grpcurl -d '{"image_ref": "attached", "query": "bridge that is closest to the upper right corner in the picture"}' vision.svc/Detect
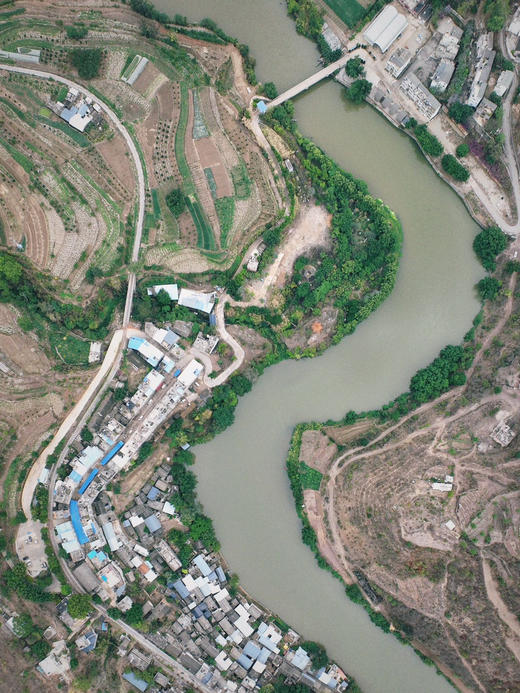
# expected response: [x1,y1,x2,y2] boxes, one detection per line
[263,53,353,112]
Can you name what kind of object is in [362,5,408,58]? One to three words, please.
building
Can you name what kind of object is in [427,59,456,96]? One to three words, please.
house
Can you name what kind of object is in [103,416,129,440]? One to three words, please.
house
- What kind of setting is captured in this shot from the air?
residential area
